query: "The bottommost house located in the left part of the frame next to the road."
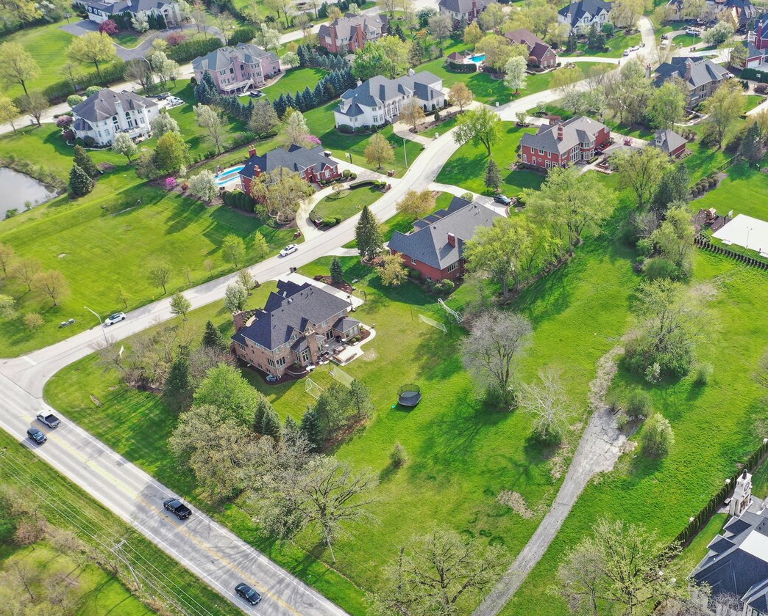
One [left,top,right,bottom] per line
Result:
[230,278,361,378]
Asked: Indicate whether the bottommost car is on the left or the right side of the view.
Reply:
left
